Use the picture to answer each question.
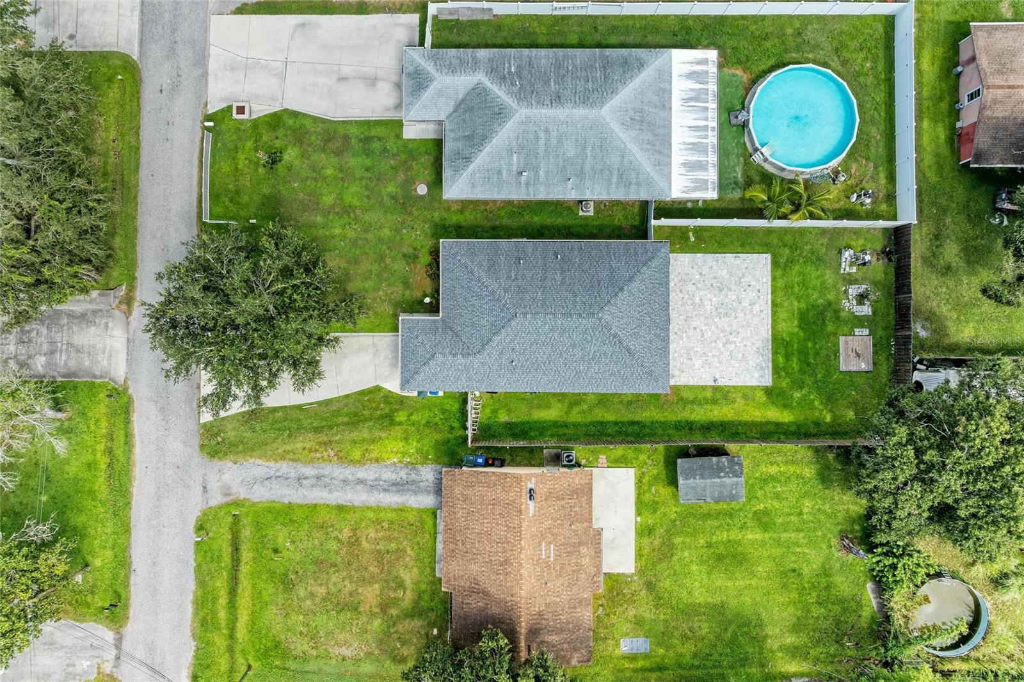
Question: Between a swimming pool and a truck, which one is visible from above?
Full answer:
This aerial view contains a swimming pool.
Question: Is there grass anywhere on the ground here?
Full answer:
Yes, grass can be seen from above here.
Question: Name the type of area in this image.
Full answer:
The picture captures a residential area.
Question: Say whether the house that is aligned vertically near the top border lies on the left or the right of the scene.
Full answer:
The house that is aligned vertically near the top border sits on the right side.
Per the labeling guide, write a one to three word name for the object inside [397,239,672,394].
house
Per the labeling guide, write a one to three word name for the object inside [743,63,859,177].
swimming pool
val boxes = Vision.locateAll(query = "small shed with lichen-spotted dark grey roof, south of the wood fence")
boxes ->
[674,453,746,503]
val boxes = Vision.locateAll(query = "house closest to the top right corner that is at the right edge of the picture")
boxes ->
[958,22,1024,168]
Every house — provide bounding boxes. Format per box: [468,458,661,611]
[397,239,672,394]
[442,467,605,675]
[958,22,1024,168]
[401,47,718,206]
